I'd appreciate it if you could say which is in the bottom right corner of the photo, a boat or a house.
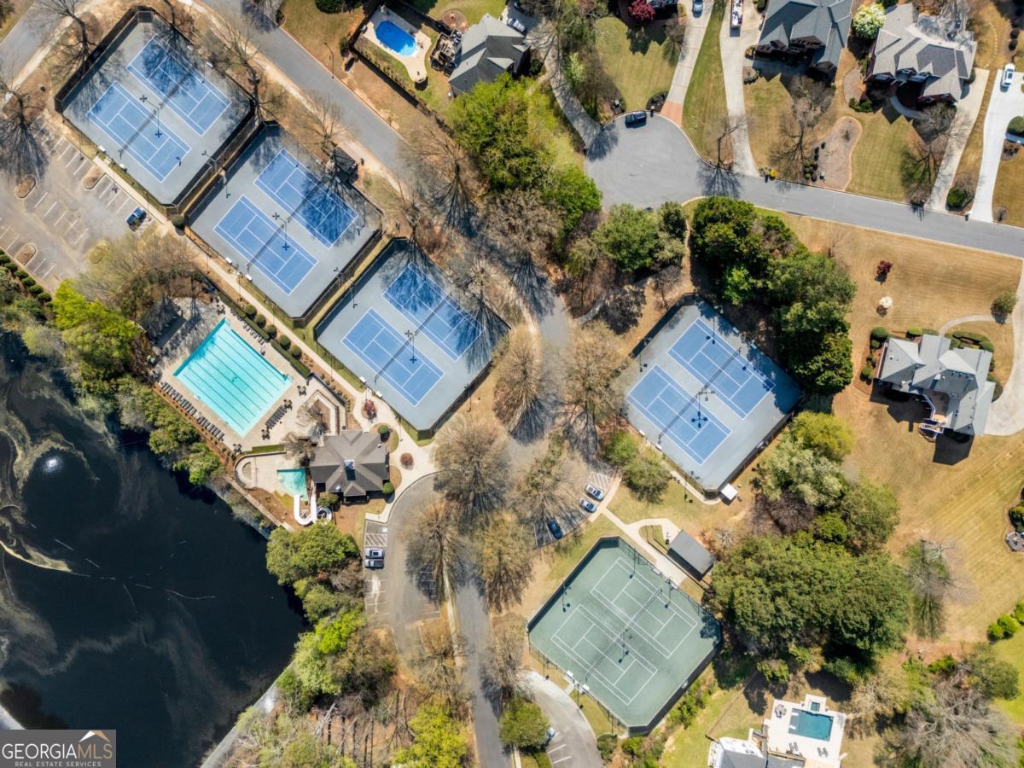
house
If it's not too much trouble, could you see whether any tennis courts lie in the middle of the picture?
Yes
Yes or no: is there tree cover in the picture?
Yes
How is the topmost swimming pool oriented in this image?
on a diagonal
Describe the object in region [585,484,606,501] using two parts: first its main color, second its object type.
white car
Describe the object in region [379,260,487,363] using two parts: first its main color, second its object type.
blue tennis court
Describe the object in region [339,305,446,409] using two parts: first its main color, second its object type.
blue tennis court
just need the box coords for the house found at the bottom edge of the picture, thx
[707,729,804,768]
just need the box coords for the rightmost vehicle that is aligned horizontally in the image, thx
[625,112,647,124]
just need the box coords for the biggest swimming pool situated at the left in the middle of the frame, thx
[173,318,292,437]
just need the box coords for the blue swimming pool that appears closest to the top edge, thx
[375,20,416,56]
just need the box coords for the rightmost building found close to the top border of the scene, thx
[862,3,977,107]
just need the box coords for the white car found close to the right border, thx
[1003,64,1018,86]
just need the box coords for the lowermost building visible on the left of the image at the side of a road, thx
[306,430,389,503]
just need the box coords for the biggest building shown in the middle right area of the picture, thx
[871,335,995,436]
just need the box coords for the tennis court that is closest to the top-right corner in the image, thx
[668,318,775,420]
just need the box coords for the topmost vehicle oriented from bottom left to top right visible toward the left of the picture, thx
[123,206,145,228]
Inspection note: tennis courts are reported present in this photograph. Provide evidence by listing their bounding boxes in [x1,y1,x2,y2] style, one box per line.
[212,193,319,296]
[339,305,446,409]
[590,557,698,658]
[625,363,732,465]
[379,260,487,363]
[668,318,775,420]
[85,80,192,182]
[550,604,658,705]
[252,147,359,250]
[125,34,232,136]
